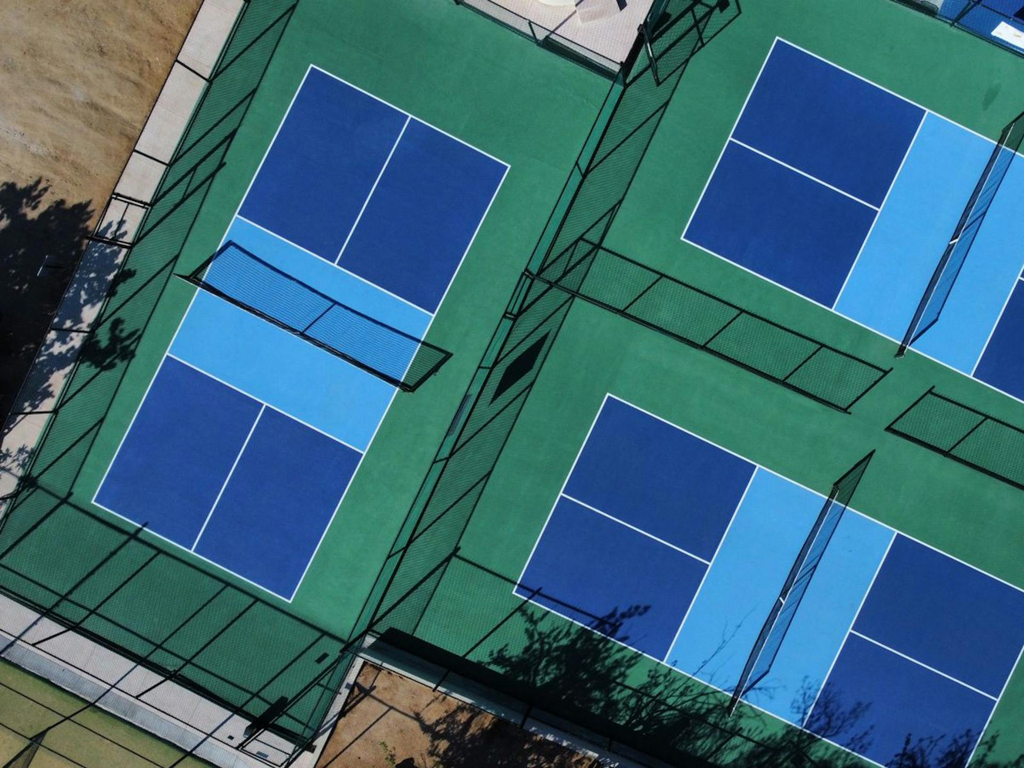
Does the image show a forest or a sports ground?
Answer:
sports ground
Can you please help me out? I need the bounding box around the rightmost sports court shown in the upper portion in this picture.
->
[682,37,1024,402]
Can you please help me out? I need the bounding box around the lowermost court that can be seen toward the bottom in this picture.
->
[513,393,1024,768]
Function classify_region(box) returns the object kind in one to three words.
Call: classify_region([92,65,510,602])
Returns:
sports court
